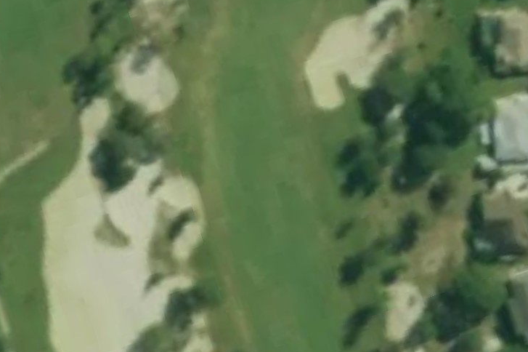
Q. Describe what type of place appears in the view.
golf course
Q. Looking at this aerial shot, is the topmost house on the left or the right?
right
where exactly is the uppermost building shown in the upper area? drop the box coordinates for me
[477,10,528,73]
